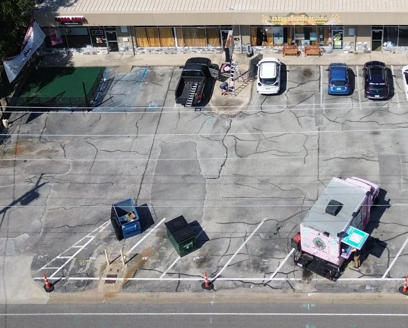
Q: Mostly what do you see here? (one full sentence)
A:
The largest share of the image is taken up by paved ground.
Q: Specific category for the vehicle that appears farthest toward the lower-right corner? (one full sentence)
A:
The vehicle that appears farthest toward the lower-right corner can be classified as a truck.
